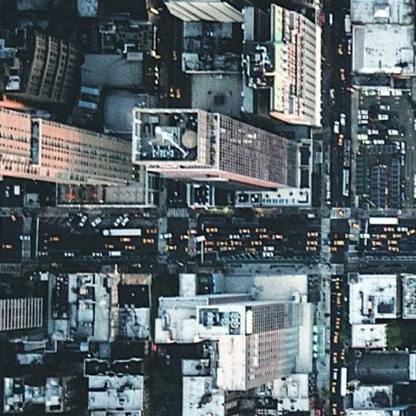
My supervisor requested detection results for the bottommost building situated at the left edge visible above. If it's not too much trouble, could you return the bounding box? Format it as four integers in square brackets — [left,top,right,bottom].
[2,373,79,414]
